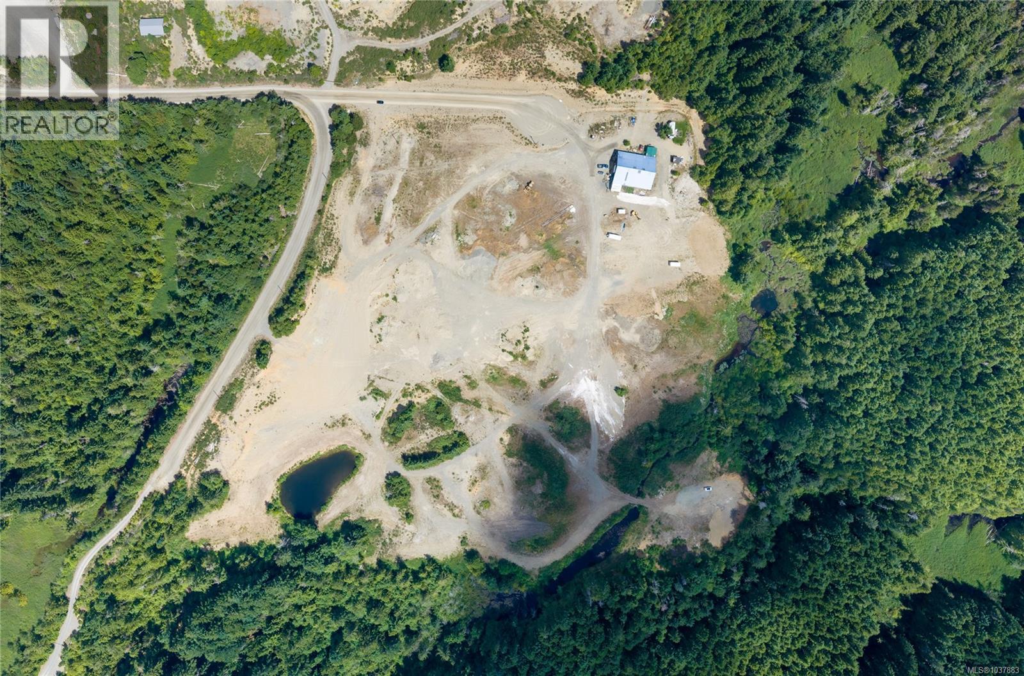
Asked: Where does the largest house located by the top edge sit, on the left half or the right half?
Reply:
left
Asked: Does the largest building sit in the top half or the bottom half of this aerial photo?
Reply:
top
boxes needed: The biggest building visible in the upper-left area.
[137,17,164,38]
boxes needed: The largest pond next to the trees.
[280,449,358,520]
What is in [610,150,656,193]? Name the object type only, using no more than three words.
building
